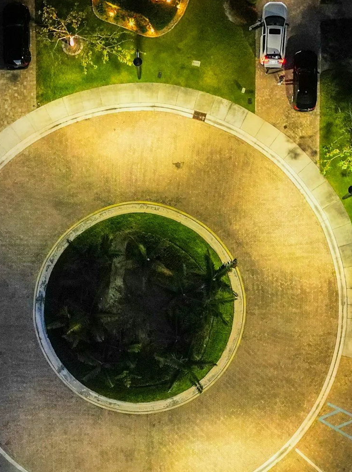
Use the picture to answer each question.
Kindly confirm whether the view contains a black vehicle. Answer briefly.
Yes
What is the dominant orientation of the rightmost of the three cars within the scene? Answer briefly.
vertically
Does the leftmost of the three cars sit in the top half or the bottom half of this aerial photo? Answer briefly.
top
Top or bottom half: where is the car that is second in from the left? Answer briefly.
top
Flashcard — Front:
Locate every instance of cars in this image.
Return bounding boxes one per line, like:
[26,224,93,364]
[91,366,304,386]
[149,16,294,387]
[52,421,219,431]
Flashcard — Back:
[247,2,290,70]
[0,3,34,71]
[290,50,322,114]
